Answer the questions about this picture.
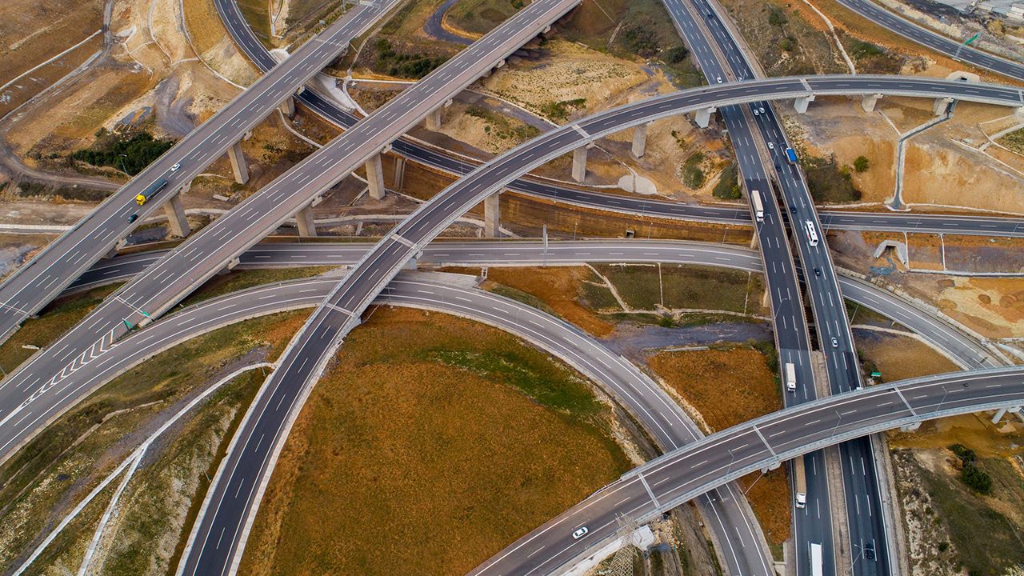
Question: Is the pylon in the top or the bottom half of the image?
bottom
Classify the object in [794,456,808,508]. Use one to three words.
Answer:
vehicle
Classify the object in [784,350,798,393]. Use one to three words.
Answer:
vehicle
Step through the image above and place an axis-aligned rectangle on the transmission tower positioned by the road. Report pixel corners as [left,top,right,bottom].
[606,523,650,576]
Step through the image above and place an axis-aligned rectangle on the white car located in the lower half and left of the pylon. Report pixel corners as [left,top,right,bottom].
[573,527,589,539]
